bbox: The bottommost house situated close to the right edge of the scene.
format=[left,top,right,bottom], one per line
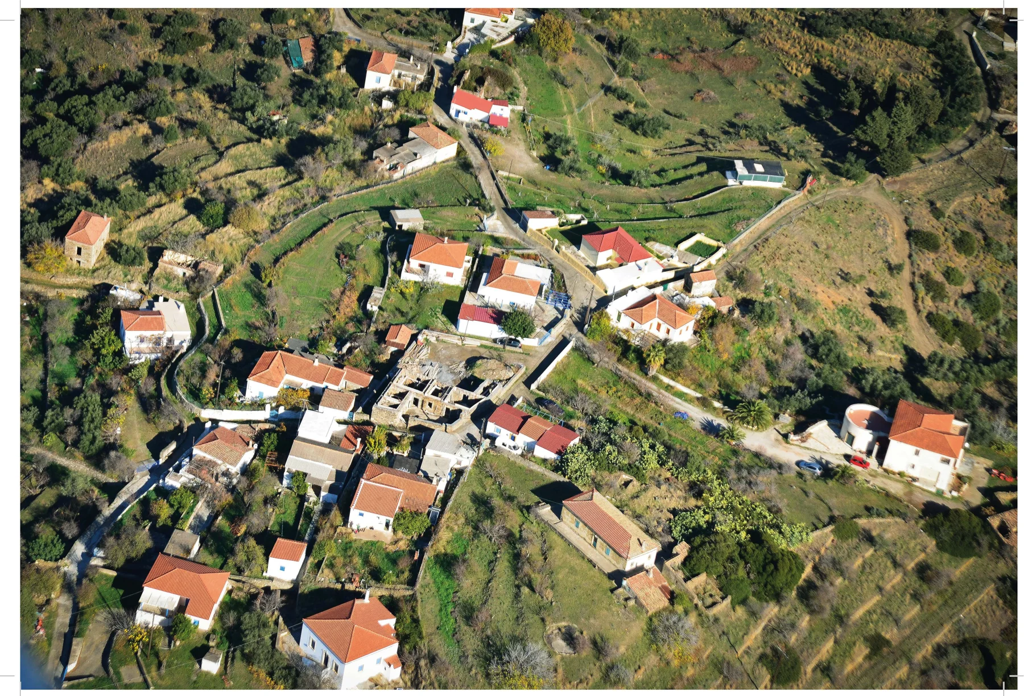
[987,504,1024,557]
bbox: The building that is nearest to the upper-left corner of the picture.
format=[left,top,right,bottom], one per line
[65,211,120,268]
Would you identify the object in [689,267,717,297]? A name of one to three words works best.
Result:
barn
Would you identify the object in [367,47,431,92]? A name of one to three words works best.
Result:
house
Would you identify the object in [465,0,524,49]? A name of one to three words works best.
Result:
house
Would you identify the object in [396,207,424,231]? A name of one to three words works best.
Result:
shed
